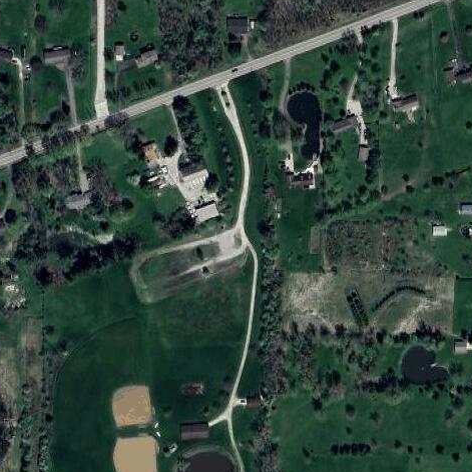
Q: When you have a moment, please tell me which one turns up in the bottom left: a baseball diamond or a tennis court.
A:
baseball diamond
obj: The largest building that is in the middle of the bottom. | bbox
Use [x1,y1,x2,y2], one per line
[181,422,209,439]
